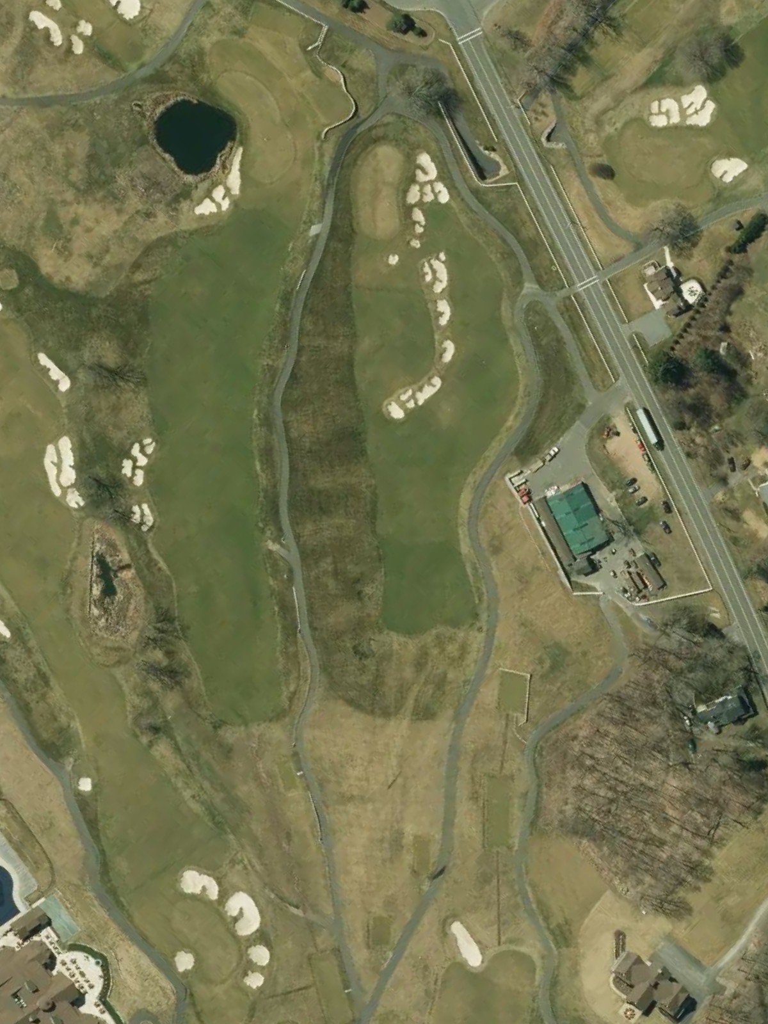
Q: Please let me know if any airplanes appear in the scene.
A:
No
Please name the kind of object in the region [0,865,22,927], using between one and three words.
swimming pool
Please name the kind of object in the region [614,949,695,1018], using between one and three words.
house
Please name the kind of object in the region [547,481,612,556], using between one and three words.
barn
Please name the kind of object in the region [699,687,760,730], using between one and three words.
house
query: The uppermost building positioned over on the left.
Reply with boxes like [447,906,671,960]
[8,905,49,942]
